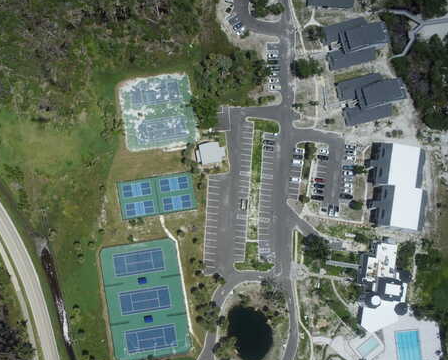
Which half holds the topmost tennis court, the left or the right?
left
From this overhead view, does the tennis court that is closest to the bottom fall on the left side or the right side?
left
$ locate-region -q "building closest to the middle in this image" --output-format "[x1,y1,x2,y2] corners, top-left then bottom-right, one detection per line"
[194,141,226,165]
